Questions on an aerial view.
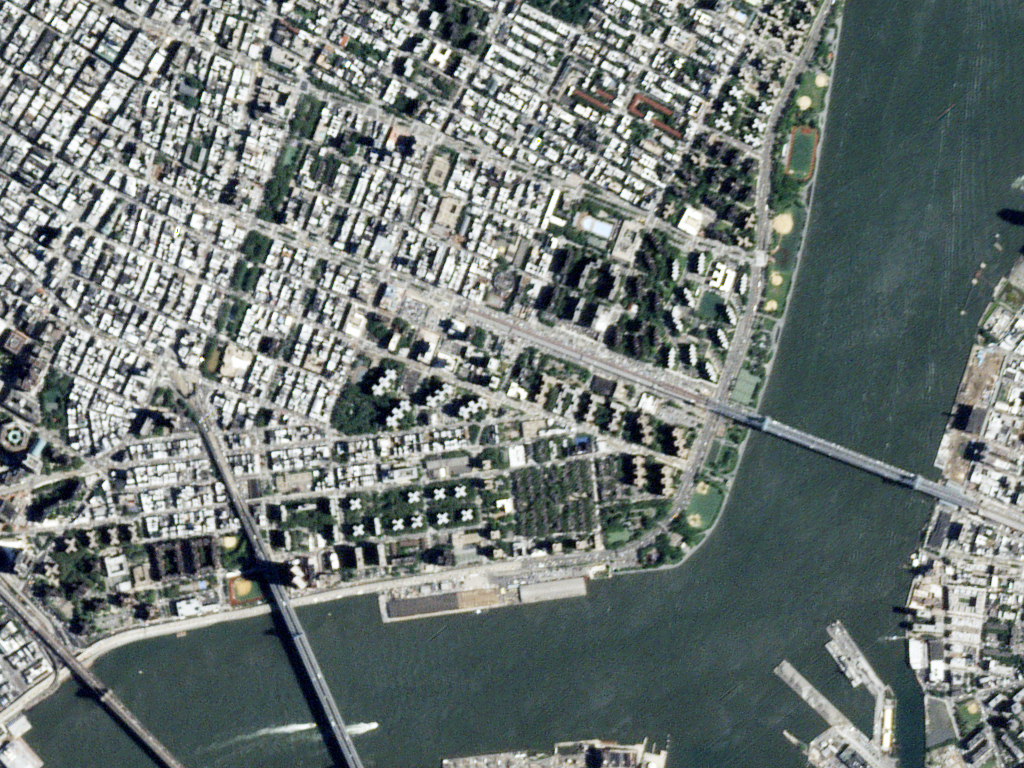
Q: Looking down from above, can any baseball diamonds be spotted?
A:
Yes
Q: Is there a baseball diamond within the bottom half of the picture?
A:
Yes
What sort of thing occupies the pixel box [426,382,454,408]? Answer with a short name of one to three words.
building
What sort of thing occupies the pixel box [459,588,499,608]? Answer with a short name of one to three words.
shed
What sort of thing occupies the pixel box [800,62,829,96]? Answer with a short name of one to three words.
baseball field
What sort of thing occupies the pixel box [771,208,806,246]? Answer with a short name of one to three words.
baseball field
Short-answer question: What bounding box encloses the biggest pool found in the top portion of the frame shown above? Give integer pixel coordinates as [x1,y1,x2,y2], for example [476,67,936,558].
[574,210,618,244]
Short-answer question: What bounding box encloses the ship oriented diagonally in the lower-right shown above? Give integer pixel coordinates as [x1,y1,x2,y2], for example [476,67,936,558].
[825,641,862,687]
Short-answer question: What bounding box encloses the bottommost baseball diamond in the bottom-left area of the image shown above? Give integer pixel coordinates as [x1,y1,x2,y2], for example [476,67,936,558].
[230,573,264,604]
